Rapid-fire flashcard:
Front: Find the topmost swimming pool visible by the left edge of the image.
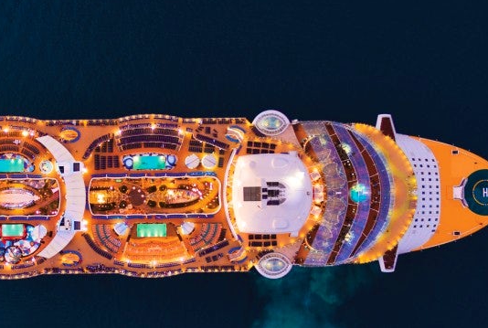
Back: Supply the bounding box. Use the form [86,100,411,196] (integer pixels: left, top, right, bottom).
[0,153,36,175]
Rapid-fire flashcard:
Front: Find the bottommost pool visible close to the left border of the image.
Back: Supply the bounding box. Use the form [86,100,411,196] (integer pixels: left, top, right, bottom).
[2,224,24,238]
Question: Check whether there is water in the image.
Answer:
Yes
